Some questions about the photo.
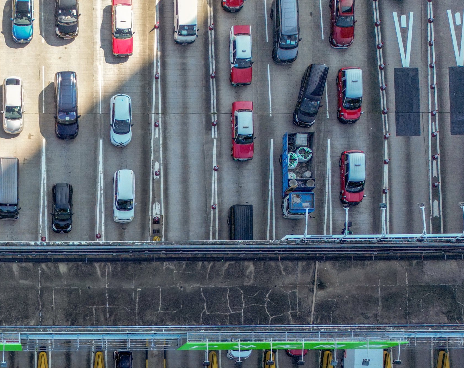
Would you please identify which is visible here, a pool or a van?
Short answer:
van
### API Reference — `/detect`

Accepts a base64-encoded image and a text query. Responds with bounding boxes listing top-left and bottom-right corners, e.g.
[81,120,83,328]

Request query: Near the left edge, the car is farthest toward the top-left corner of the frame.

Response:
[11,0,35,47]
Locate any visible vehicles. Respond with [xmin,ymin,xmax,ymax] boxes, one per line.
[327,0,357,51]
[11,0,35,47]
[230,103,257,161]
[336,68,363,124]
[54,0,80,42]
[228,27,254,87]
[272,0,301,64]
[0,78,25,134]
[281,133,317,218]
[228,201,254,241]
[172,0,197,47]
[112,171,136,222]
[0,159,21,219]
[109,96,134,146]
[50,181,75,235]
[111,1,135,59]
[219,0,245,15]
[339,150,366,205]
[292,64,330,127]
[113,350,133,368]
[54,75,80,137]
